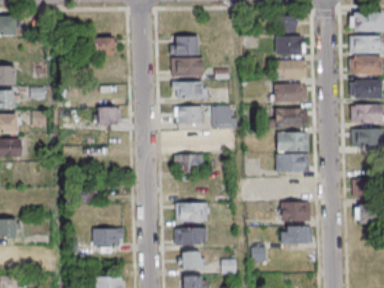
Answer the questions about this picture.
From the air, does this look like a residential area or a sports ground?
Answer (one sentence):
This image shows a residential area.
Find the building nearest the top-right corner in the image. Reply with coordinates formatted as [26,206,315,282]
[350,14,384,32]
